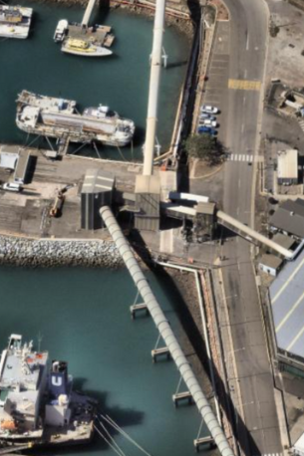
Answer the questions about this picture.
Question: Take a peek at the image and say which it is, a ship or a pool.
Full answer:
The image shows a ship.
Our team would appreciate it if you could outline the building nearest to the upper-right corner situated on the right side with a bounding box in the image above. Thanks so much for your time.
[277,148,298,186]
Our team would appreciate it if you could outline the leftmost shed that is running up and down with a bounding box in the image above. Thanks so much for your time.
[15,147,31,186]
